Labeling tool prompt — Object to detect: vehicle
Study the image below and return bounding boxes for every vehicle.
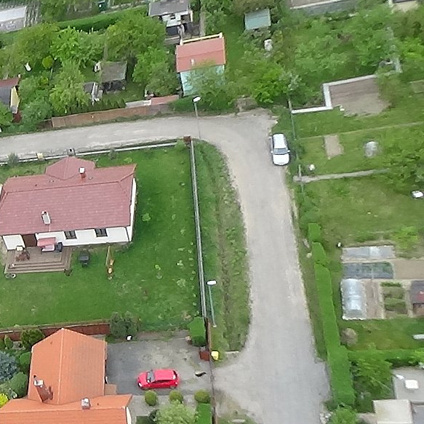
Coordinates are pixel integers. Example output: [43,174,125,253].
[269,131,290,165]
[138,368,180,390]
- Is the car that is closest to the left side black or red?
red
